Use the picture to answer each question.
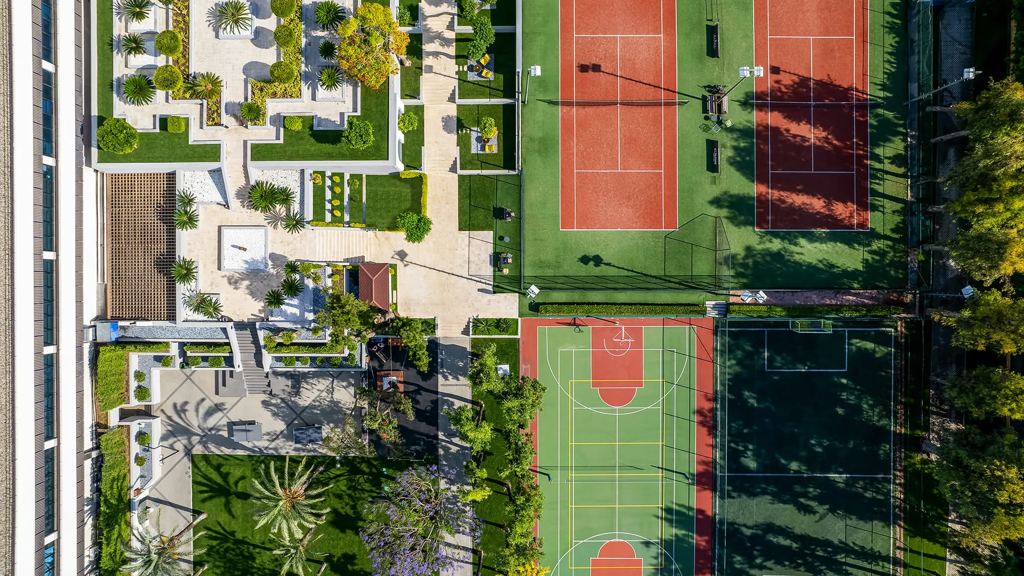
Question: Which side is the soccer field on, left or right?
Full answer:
You can find the soccer field on the right side of the picture.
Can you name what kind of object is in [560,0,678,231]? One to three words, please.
tennis court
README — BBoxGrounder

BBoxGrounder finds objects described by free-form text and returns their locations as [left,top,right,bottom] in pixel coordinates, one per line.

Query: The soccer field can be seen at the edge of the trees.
[715,318,898,576]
